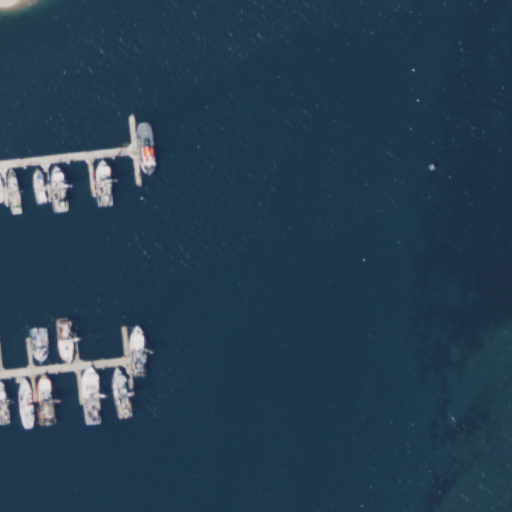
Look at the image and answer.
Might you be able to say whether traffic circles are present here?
No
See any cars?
No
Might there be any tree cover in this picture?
No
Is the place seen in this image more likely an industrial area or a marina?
marina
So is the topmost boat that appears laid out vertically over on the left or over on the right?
left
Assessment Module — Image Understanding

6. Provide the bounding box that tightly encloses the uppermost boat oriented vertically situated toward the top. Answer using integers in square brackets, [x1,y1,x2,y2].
[134,122,156,182]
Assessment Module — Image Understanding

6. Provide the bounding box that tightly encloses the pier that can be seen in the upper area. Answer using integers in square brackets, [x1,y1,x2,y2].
[0,114,142,207]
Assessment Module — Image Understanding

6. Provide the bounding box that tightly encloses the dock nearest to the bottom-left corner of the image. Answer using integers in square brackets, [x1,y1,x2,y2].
[0,326,134,406]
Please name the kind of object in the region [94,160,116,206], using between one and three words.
boat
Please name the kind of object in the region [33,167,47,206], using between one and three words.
boat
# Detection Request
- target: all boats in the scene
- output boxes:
[17,375,34,429]
[35,373,58,426]
[28,328,49,366]
[56,318,77,364]
[33,167,47,206]
[126,326,151,377]
[82,366,104,426]
[6,168,24,215]
[48,163,70,212]
[134,122,156,182]
[112,366,134,419]
[0,376,12,426]
[94,160,116,206]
